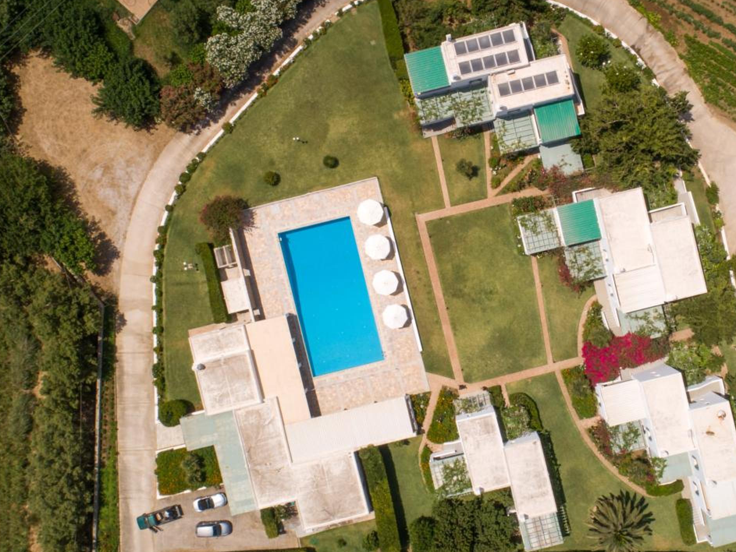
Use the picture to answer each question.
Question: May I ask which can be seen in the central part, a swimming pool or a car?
swimming pool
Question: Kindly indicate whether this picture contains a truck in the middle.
No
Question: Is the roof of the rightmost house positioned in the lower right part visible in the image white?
Yes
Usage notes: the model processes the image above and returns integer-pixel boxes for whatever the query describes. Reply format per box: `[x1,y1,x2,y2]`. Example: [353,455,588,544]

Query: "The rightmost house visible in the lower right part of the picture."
[593,358,736,547]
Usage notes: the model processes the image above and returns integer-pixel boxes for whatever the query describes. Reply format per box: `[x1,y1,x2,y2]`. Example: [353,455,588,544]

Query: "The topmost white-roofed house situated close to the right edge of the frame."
[551,179,707,336]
